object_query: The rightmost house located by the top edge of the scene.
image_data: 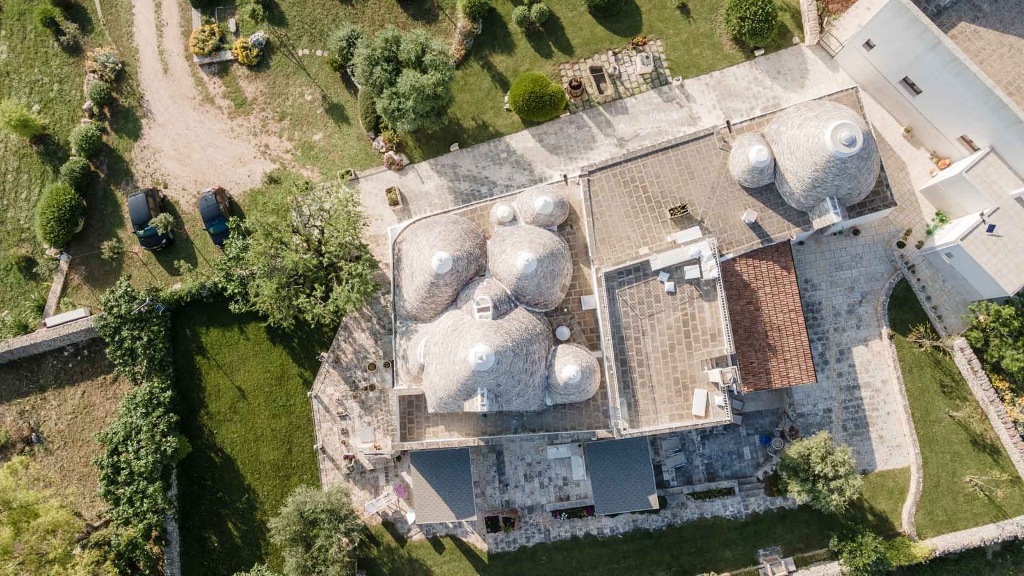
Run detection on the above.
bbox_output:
[829,0,1024,188]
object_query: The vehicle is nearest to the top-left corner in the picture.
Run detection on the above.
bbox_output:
[132,190,172,255]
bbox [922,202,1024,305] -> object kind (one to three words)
shed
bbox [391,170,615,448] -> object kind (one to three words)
house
